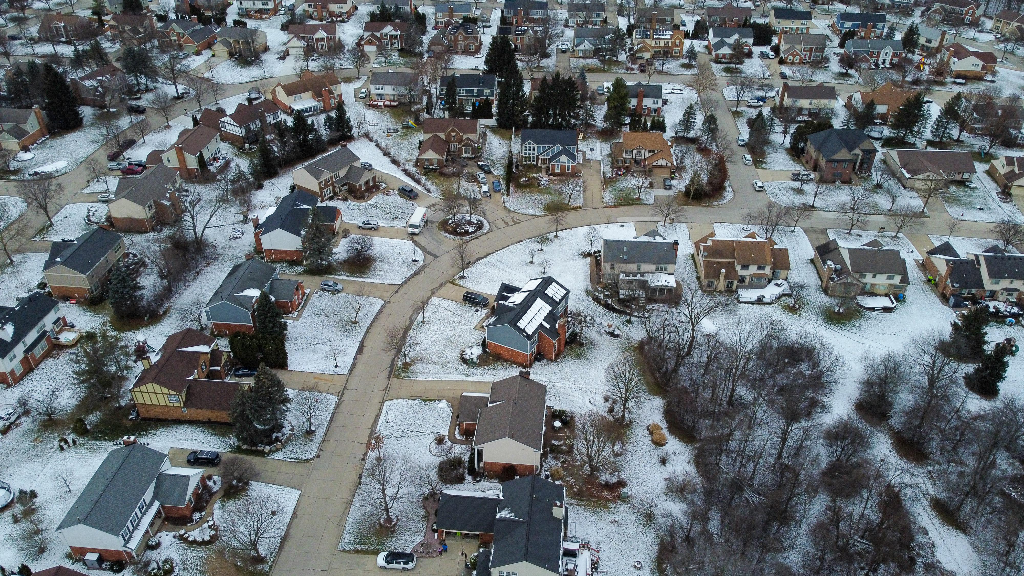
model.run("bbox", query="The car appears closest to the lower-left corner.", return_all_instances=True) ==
[183,448,222,466]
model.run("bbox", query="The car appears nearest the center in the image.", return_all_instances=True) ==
[461,289,490,306]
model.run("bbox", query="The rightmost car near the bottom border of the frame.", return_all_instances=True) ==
[375,550,417,571]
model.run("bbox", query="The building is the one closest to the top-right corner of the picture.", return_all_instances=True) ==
[992,10,1024,43]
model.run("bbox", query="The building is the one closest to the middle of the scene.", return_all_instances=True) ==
[485,275,572,366]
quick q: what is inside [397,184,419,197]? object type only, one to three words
vehicle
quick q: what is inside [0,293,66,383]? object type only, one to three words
house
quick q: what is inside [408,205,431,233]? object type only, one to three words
truck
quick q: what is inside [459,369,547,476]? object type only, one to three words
house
